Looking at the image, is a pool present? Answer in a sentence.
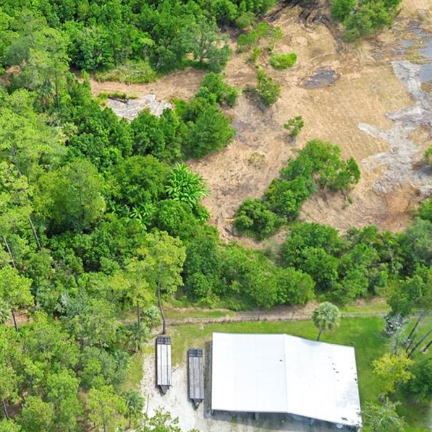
No, the picture doesn't show any pool.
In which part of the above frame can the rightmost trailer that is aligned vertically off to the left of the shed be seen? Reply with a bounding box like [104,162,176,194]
[189,348,204,409]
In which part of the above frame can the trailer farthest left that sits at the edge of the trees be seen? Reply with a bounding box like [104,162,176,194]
[157,336,172,397]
